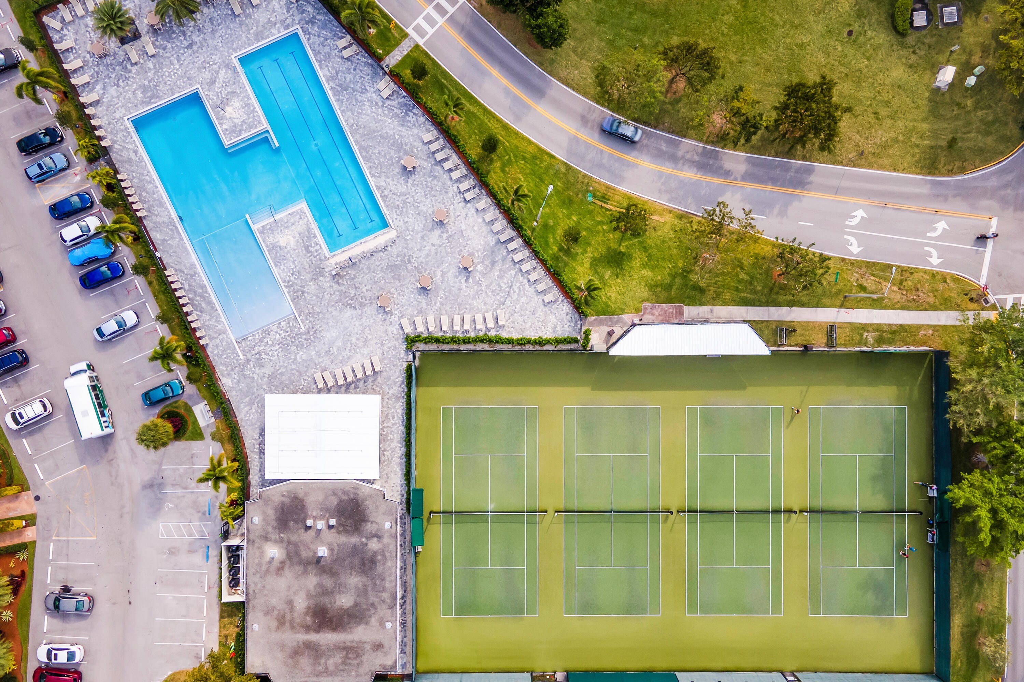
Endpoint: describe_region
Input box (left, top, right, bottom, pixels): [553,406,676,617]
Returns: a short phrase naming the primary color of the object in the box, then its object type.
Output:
green tennis court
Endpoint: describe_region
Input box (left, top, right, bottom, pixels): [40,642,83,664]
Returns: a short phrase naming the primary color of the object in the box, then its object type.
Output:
white car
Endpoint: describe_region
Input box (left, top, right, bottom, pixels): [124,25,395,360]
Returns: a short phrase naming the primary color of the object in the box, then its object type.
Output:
blue swimming pool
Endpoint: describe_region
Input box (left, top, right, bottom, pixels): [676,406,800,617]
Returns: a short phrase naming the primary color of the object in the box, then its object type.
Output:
green tennis court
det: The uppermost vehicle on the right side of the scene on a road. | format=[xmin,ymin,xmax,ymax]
[600,116,643,145]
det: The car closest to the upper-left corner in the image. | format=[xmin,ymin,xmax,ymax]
[0,52,25,77]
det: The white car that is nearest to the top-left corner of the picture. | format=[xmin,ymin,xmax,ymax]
[57,215,103,246]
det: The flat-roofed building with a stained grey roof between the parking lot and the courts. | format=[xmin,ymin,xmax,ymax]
[245,478,401,682]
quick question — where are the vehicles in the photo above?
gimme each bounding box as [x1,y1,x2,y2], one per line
[975,230,995,239]
[57,215,103,246]
[80,261,125,290]
[94,312,140,341]
[0,348,30,376]
[141,379,186,407]
[70,239,116,267]
[17,126,63,155]
[600,116,643,145]
[63,364,112,440]
[0,52,25,77]
[40,642,83,664]
[6,398,53,428]
[49,191,95,220]
[0,324,18,347]
[49,591,92,613]
[24,154,70,184]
